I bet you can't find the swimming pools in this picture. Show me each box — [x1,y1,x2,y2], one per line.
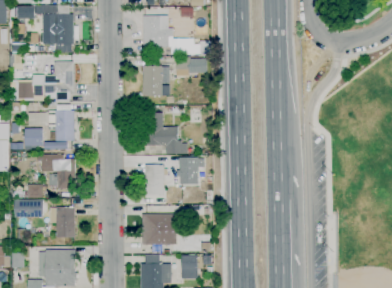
[196,17,206,27]
[18,218,29,228]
